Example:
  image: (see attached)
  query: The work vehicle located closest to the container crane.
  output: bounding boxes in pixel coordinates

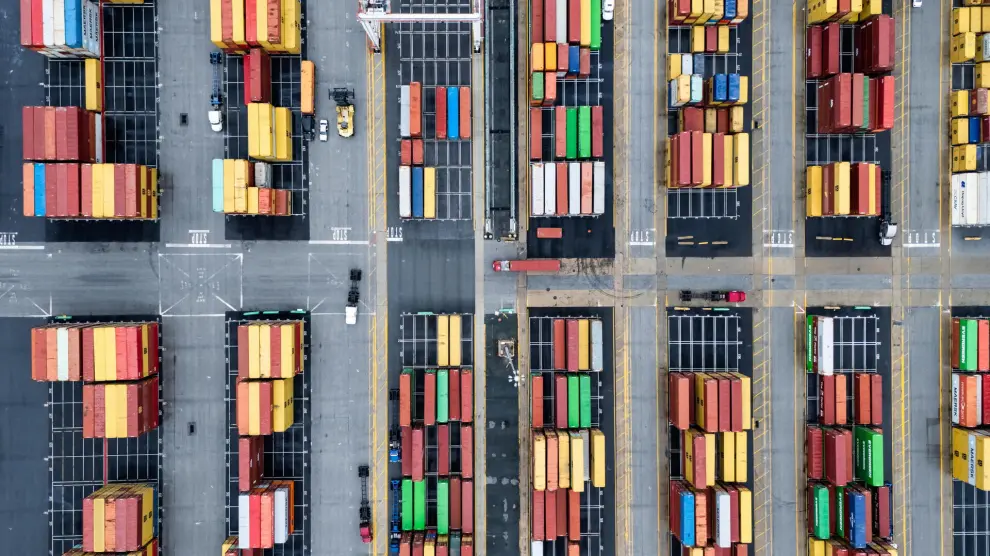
[328,89,355,136]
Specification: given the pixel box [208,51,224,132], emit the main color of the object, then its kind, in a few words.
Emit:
white vehicle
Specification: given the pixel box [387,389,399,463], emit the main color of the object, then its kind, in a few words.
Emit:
blue vehicle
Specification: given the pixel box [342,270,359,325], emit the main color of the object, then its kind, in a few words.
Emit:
white vehicle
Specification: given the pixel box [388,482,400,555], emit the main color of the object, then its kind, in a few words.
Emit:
blue vehicle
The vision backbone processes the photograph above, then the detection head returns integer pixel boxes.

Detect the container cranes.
[356,0,485,52]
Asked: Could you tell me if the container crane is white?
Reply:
Yes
